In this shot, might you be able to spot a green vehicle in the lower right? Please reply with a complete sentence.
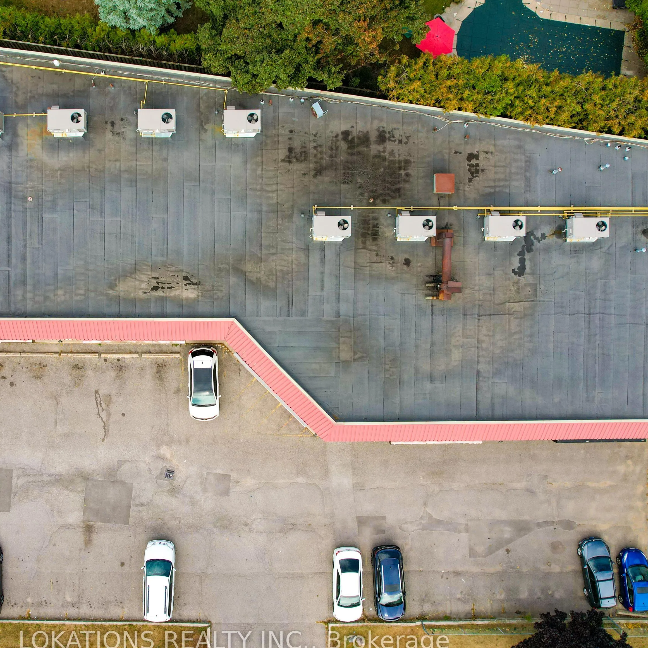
No, in the lower right there is no green vehicle.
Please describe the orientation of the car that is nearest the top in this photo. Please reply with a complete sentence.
The car that is nearest the top has been laid out from top to bottom relative to the frame.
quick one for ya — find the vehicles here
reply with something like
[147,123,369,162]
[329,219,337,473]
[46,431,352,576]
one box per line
[577,536,620,611]
[331,546,367,622]
[184,345,222,422]
[617,548,648,611]
[140,540,178,620]
[372,543,410,623]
